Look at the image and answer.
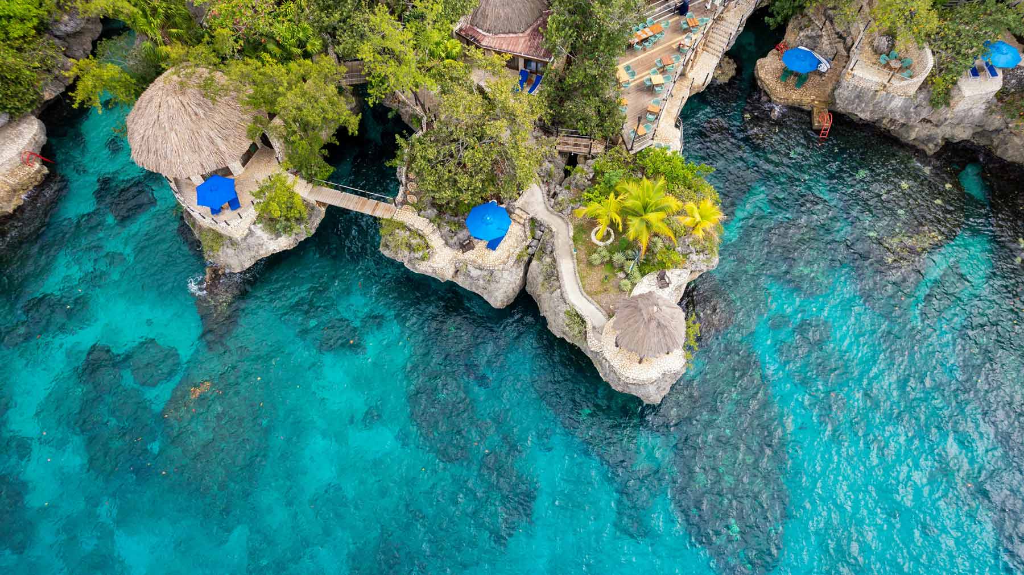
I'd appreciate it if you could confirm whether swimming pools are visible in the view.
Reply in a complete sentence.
No, I find no swimming pool anywhere in the image.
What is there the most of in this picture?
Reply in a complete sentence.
Most of the picture is covered by water.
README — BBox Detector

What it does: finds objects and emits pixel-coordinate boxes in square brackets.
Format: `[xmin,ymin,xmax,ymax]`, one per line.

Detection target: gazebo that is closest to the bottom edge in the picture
[612,292,686,366]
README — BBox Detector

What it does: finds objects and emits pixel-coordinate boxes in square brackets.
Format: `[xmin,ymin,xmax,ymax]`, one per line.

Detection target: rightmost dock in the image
[806,106,829,142]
